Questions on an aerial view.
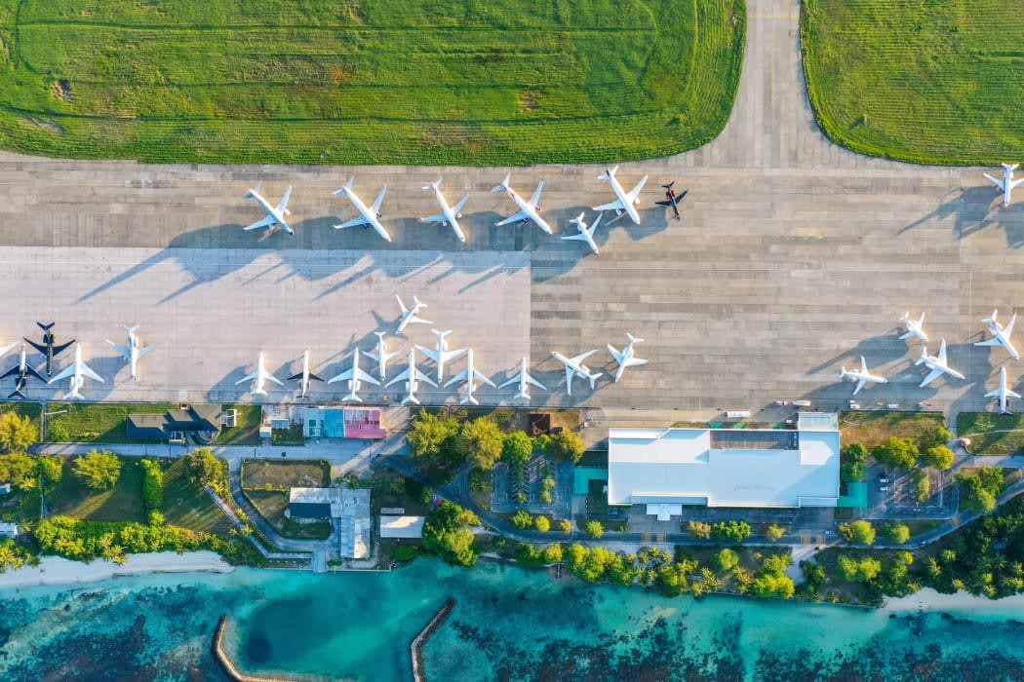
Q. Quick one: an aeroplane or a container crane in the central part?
aeroplane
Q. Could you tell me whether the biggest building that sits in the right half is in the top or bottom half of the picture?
bottom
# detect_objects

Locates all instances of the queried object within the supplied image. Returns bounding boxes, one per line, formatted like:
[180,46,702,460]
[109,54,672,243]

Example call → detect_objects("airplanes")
[105,324,158,378]
[19,322,72,375]
[414,329,467,381]
[595,168,650,223]
[396,296,432,332]
[606,338,650,381]
[656,183,689,219]
[497,176,553,234]
[985,367,1023,415]
[328,348,380,402]
[978,312,1022,359]
[235,353,283,398]
[335,178,391,241]
[46,343,103,399]
[445,348,496,404]
[552,347,600,394]
[423,179,469,241]
[0,344,46,401]
[920,338,964,386]
[499,358,547,397]
[898,310,927,340]
[240,181,291,233]
[286,351,323,401]
[361,331,401,378]
[842,356,886,395]
[384,349,437,404]
[563,212,604,253]
[985,160,1024,207]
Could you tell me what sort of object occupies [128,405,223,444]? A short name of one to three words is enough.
house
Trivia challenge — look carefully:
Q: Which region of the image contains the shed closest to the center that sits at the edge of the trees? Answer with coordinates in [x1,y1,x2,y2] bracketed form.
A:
[529,414,563,434]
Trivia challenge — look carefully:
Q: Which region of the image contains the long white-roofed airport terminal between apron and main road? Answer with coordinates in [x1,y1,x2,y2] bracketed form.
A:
[601,411,843,519]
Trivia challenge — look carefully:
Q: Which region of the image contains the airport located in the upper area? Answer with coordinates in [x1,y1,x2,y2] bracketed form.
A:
[0,0,1024,449]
